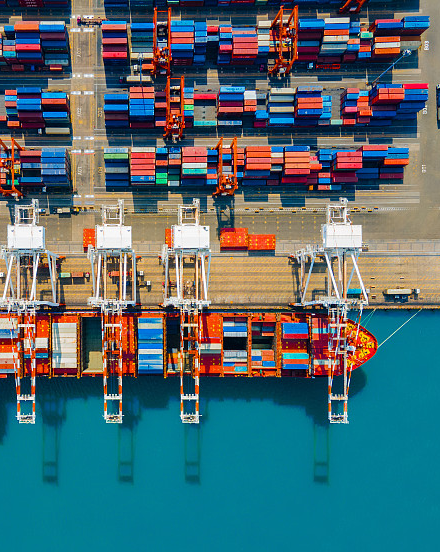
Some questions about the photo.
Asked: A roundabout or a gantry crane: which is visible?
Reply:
gantry crane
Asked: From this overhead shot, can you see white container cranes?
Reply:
Yes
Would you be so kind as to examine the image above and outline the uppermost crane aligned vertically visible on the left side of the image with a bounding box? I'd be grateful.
[148,5,174,78]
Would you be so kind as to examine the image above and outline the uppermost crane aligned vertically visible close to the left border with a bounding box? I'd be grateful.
[0,135,26,200]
